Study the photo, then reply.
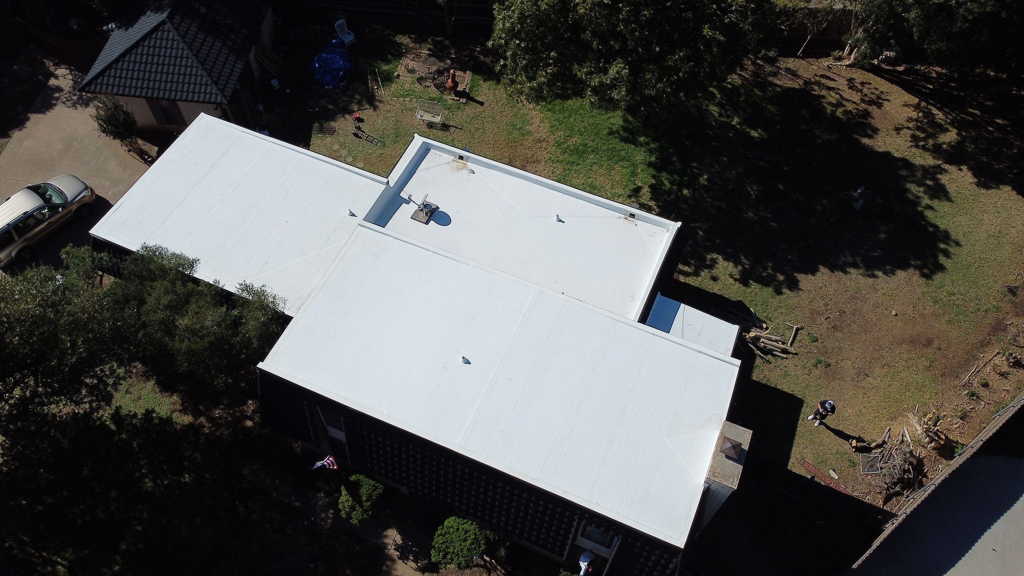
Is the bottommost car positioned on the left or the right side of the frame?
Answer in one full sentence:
The bottommost car appears in the left half of the scene.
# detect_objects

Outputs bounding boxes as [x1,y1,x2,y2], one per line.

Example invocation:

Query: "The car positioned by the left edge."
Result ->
[0,179,95,268]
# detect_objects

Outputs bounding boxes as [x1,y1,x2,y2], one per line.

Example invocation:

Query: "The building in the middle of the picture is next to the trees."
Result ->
[87,113,755,576]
